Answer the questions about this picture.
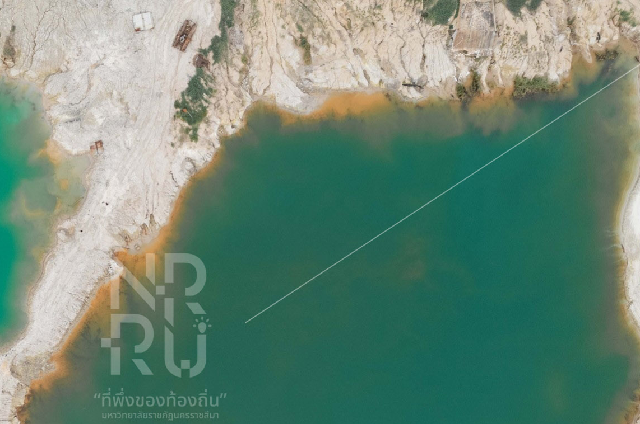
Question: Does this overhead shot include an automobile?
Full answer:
No, the picture doesn't show any automobile.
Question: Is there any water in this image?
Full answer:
Yes, some water is visible.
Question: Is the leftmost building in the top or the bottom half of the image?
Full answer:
It is in the top half that the leftmost building appears.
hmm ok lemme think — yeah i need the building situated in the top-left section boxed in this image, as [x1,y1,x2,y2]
[132,10,155,31]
